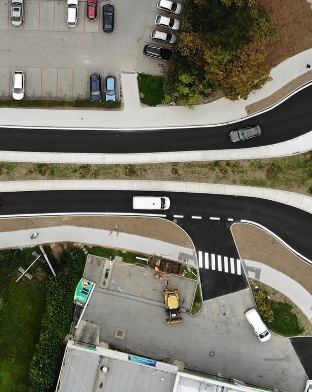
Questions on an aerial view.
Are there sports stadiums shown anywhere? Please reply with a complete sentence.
No, I find no sports stadium anywhere in the image.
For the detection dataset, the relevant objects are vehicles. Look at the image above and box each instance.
[156,0,182,14]
[133,196,169,211]
[64,0,80,27]
[103,75,118,102]
[229,126,261,143]
[304,379,312,392]
[143,44,172,60]
[163,272,183,326]
[89,73,103,102]
[10,0,25,26]
[244,306,270,341]
[151,28,177,44]
[11,71,25,101]
[86,0,99,21]
[101,4,116,32]
[155,14,180,30]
